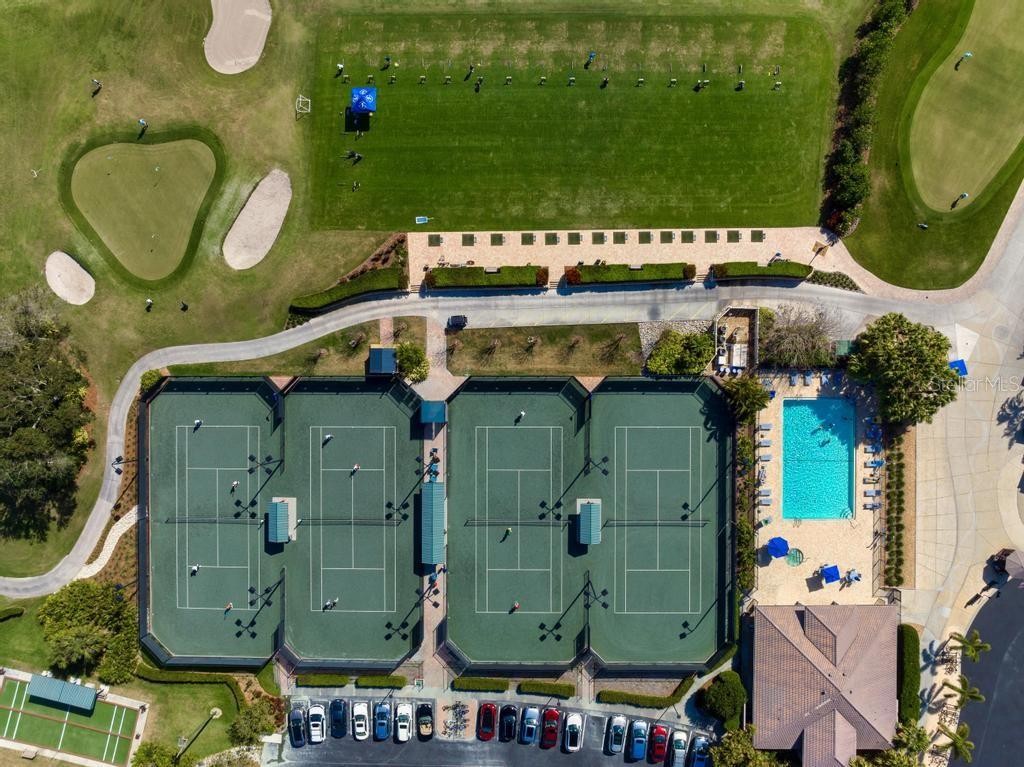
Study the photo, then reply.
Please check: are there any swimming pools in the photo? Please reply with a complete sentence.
Yes, the picture does show a swimming pool.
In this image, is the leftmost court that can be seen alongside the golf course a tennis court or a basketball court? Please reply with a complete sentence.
The leftmost court that can be seen alongside the golf course appears to be a tennis court.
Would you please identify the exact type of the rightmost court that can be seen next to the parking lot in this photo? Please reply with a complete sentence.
From above, the rightmost court that can be seen next to the parking lot can be identified as a tennis court.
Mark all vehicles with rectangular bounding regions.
[542,707,559,746]
[479,700,496,739]
[396,701,413,741]
[500,702,517,740]
[609,711,627,751]
[669,727,689,767]
[288,707,308,747]
[374,700,391,739]
[630,718,649,758]
[446,317,466,329]
[691,731,710,767]
[565,711,583,752]
[522,704,540,743]
[307,702,326,741]
[416,703,433,739]
[352,700,369,739]
[650,722,668,761]
[329,697,348,736]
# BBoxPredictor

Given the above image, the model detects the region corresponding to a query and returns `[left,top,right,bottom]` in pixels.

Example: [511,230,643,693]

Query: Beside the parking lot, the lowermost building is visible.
[753,605,896,767]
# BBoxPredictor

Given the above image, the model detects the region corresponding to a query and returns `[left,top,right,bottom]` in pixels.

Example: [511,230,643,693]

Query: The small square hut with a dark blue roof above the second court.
[370,347,397,373]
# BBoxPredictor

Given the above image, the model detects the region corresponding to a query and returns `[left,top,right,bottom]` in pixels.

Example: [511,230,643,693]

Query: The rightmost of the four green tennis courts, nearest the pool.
[588,378,728,663]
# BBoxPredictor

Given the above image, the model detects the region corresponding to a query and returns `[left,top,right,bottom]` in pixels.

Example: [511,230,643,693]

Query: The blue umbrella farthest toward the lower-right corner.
[819,563,841,584]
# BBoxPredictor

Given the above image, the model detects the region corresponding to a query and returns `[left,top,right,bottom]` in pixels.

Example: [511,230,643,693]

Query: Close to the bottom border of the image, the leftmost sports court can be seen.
[0,667,149,767]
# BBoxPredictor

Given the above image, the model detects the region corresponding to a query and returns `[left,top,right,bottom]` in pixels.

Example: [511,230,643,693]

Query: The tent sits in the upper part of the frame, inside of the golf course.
[352,88,379,118]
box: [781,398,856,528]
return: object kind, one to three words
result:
swimming pool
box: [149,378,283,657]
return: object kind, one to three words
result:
tennis court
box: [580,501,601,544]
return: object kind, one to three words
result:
building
